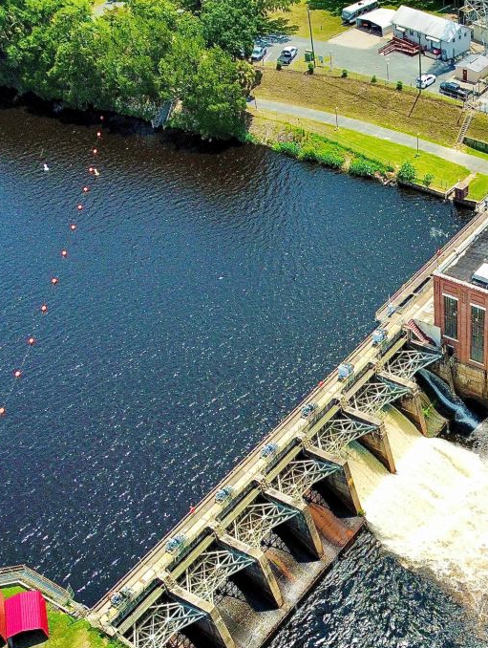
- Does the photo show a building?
Yes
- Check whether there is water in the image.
Yes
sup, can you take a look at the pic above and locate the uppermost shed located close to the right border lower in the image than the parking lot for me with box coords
[448,183,474,211]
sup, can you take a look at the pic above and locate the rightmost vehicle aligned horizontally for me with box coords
[442,82,467,96]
